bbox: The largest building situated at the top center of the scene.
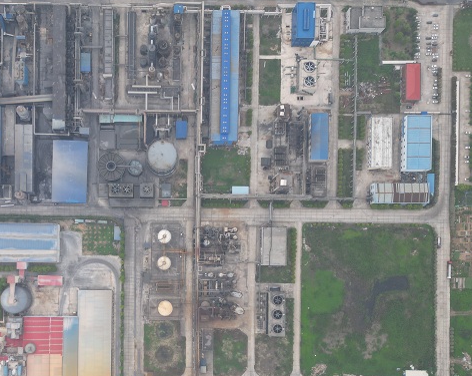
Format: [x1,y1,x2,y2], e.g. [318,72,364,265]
[211,9,239,146]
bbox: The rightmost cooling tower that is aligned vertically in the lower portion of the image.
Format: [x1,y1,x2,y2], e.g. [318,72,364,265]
[266,292,286,336]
